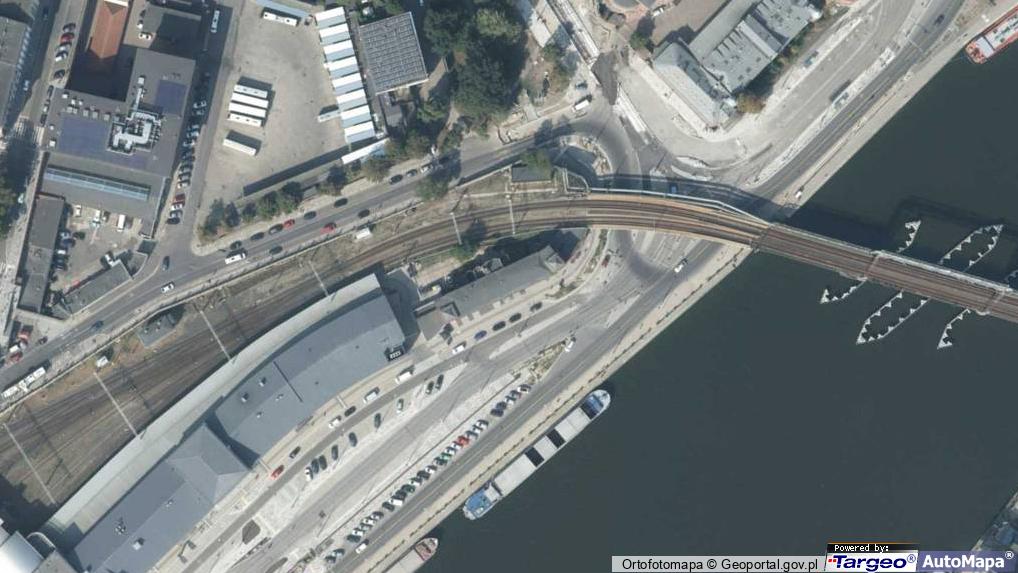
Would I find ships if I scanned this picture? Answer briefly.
Yes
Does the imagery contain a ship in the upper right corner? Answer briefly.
Yes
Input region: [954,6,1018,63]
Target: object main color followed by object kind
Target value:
white ship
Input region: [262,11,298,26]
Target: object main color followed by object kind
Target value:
white vehicle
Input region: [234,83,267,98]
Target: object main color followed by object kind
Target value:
white vehicle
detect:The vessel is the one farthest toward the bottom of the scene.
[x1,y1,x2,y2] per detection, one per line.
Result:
[389,529,440,573]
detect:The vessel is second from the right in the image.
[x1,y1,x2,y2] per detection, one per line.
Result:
[451,385,611,521]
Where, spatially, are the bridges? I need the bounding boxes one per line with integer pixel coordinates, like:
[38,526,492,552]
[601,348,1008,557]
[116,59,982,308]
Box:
[585,188,1018,321]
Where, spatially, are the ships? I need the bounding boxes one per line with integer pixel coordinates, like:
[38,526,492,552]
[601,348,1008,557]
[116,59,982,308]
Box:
[954,6,1018,63]
[389,529,440,573]
[451,385,611,521]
